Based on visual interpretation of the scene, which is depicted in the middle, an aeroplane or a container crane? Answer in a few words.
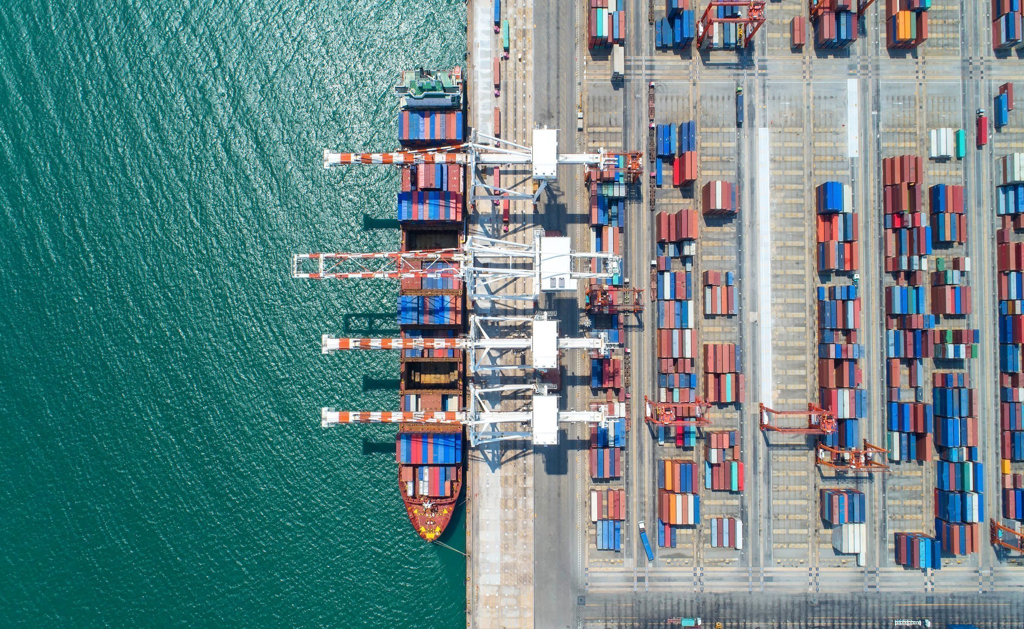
container crane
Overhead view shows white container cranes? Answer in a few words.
Yes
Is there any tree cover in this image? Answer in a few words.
No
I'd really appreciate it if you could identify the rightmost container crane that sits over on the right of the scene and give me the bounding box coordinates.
[991,517,1024,557]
